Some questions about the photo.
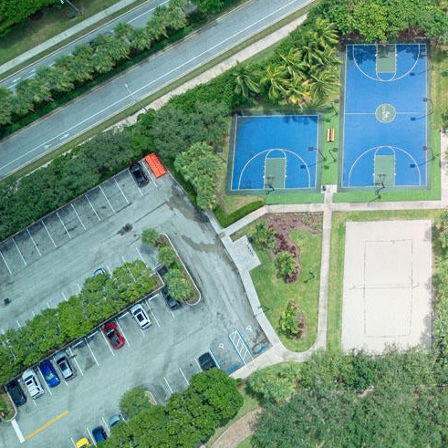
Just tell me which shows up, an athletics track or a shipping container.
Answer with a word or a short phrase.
shipping container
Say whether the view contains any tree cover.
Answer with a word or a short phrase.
Yes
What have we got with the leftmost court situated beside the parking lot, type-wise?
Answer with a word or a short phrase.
basketball court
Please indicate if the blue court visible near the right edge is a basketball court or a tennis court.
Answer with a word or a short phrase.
basketball court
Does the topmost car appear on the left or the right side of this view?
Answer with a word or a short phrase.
left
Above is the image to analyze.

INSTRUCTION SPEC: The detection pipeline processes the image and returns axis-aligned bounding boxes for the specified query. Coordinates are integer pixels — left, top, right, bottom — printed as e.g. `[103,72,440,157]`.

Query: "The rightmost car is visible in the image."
[199,351,221,376]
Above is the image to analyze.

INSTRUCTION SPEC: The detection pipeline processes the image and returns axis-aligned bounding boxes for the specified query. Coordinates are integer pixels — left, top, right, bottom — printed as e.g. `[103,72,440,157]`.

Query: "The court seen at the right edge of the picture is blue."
[337,41,431,192]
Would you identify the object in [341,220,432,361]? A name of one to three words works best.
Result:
sports court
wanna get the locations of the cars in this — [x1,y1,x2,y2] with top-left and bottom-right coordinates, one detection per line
[5,377,30,407]
[110,413,132,435]
[130,304,152,329]
[78,436,94,448]
[161,289,183,311]
[199,351,221,376]
[129,164,150,188]
[40,359,61,387]
[22,370,46,399]
[104,322,125,350]
[55,353,76,380]
[92,424,110,444]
